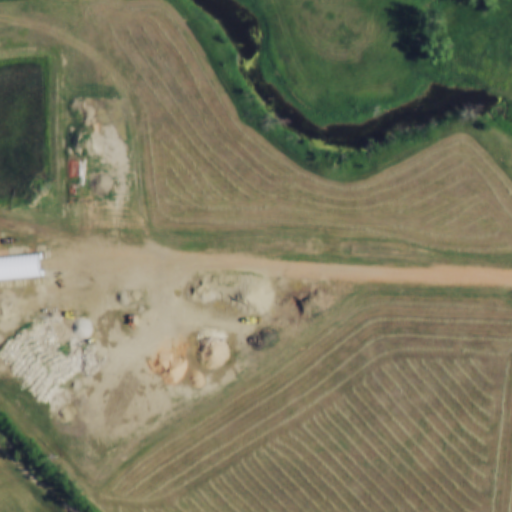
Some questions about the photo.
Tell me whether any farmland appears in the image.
Yes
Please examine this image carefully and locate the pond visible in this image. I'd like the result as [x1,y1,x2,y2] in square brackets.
[0,62,46,202]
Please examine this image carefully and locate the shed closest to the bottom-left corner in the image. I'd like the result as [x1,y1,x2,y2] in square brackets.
[0,250,46,278]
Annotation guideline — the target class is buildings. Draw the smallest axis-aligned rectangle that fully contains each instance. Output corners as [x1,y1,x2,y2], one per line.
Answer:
[0,250,46,278]
[69,160,78,178]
